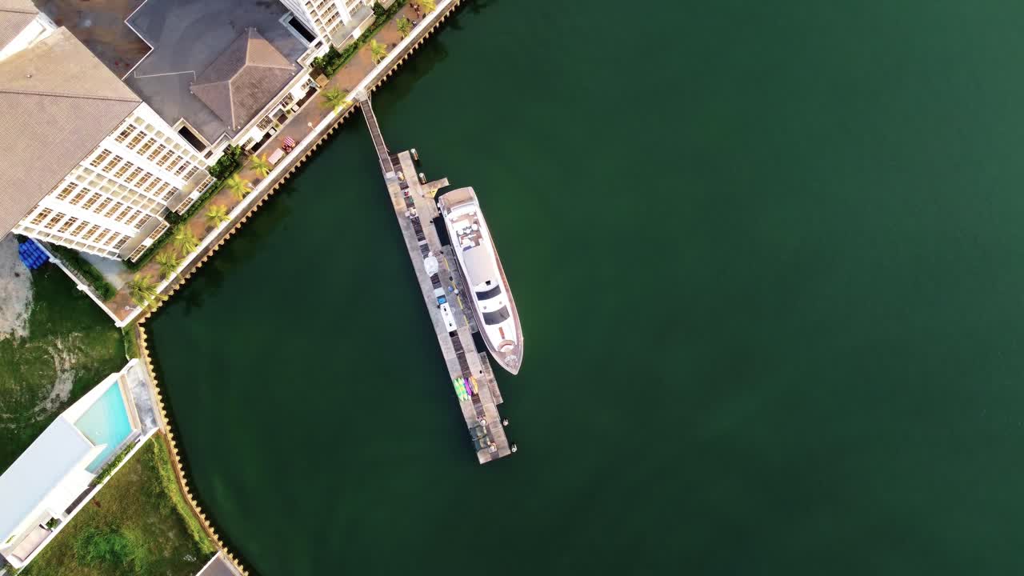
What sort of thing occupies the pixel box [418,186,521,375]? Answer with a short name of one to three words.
boat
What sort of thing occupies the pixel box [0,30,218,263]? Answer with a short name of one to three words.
building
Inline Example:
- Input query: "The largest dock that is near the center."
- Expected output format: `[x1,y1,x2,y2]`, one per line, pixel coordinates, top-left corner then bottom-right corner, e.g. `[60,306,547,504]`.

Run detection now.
[381,150,512,464]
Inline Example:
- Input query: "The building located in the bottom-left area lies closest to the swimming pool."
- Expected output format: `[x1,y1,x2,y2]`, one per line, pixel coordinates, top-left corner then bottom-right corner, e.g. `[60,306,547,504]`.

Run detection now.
[0,413,109,570]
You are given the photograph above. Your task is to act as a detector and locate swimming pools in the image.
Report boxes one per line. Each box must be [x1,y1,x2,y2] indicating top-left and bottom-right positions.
[82,375,145,477]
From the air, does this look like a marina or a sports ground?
marina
